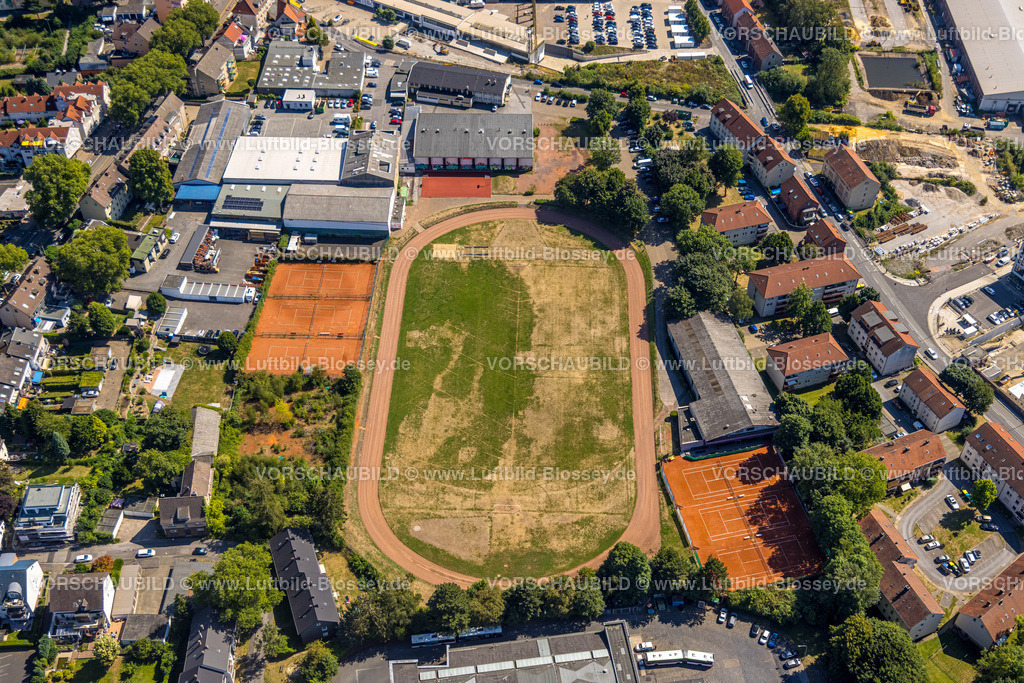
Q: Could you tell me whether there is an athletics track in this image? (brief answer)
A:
Yes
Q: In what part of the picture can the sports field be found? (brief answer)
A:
center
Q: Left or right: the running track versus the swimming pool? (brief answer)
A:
right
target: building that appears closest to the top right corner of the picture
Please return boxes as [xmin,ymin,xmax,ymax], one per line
[935,0,1024,114]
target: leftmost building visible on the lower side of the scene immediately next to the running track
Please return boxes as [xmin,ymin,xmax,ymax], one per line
[270,529,339,644]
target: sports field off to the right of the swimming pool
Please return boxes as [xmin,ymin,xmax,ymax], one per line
[379,218,636,578]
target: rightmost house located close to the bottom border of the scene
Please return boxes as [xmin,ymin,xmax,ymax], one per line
[952,577,1024,652]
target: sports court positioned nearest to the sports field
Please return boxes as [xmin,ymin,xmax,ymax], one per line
[421,173,491,197]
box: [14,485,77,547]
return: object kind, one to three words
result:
house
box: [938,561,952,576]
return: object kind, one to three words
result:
car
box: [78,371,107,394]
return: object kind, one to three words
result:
building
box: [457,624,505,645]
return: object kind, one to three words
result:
bus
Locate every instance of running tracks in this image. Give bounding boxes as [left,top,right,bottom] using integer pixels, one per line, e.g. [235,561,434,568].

[357,207,661,590]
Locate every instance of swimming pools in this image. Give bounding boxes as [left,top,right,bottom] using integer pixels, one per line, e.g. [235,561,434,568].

[147,367,180,398]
